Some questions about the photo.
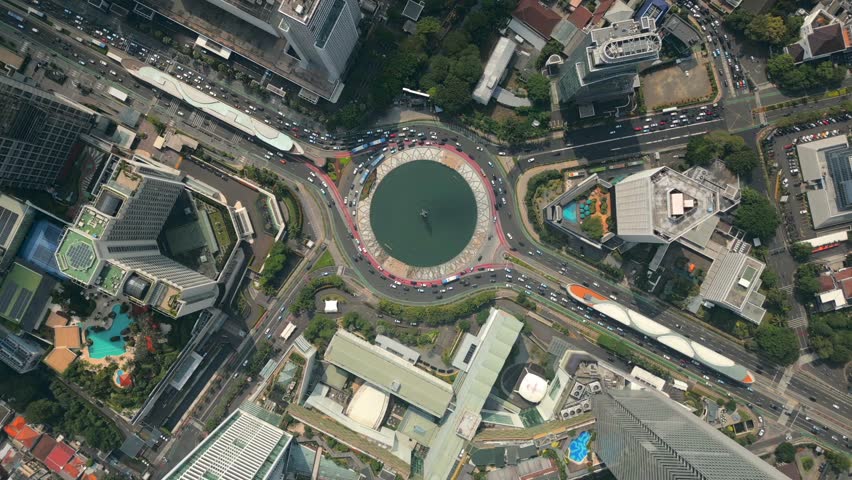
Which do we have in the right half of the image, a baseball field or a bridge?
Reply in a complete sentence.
It is a bridge that can be seen in the right half of the image.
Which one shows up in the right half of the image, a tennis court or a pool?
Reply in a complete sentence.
Visible in the right half of the image is a pool.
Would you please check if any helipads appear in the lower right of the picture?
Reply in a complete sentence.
No, looking in the lower right of the picture, there is no helipad.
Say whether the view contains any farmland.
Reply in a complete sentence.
No, no farmland is visible.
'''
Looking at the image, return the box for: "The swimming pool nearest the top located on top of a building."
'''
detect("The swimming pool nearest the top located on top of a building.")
[562,200,577,223]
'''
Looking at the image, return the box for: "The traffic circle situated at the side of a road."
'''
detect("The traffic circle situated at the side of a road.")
[355,146,493,283]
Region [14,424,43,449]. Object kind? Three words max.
house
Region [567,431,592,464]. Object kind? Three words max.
swimming pool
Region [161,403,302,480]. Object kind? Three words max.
building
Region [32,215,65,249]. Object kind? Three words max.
tennis court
